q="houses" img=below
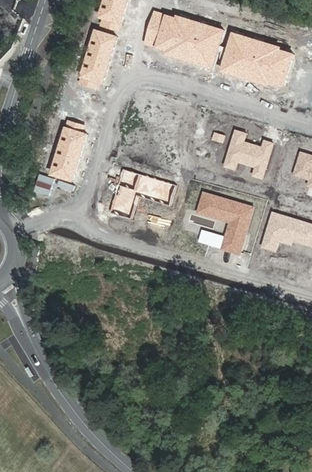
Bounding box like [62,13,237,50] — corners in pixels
[110,168,177,218]
[262,212,312,255]
[144,10,224,72]
[294,152,312,185]
[48,120,87,182]
[78,28,117,90]
[224,129,274,178]
[220,32,295,87]
[196,191,254,254]
[97,0,129,31]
